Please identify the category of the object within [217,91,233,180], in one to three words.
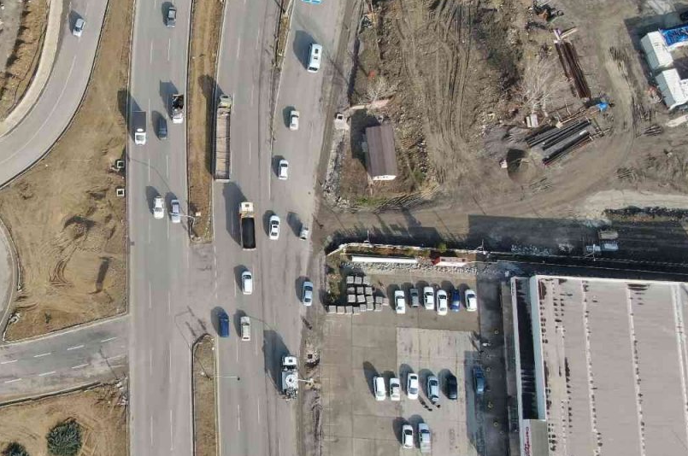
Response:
vehicle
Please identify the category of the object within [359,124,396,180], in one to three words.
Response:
house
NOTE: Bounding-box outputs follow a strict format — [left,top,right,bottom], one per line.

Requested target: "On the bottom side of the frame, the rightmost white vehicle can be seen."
[465,289,478,312]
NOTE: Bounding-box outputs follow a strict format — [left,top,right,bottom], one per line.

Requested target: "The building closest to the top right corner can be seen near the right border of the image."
[660,23,688,49]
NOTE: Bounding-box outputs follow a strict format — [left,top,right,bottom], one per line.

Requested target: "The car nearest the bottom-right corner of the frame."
[471,366,486,395]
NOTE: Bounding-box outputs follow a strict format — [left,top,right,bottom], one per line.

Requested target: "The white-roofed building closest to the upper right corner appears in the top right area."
[641,30,673,73]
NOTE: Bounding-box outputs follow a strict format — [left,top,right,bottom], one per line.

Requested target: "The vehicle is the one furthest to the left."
[72,17,85,37]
